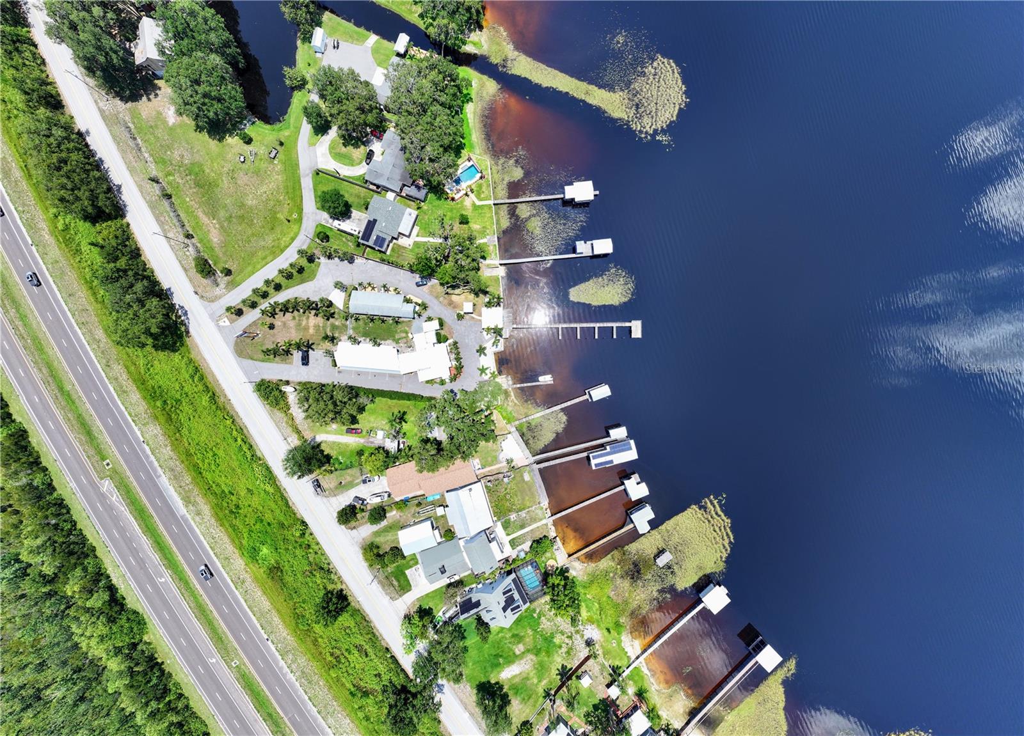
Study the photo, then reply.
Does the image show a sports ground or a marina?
marina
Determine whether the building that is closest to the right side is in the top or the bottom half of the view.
bottom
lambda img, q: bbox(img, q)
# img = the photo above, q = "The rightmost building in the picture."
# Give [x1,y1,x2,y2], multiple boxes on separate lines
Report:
[750,635,783,673]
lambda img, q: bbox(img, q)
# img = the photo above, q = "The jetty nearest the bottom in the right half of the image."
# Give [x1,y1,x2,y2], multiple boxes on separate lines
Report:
[675,660,758,736]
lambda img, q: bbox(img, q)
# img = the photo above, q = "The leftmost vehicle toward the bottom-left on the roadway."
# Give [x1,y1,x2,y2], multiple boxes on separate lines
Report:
[197,565,210,582]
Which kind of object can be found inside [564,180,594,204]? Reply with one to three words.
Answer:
building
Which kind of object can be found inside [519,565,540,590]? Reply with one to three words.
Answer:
swimming pool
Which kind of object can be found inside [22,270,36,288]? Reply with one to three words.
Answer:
vehicle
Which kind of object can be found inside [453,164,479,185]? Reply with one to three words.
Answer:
swimming pool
